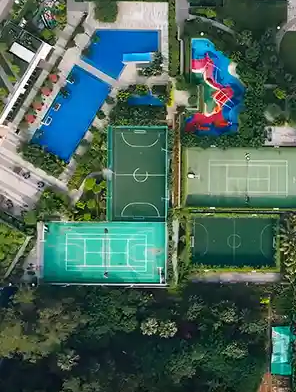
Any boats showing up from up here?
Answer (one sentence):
No, no boat is visible in the view.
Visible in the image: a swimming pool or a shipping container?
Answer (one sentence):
Visible in the photo is a swimming pool.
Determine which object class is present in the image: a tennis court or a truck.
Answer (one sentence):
Visible in the photo is a tennis court.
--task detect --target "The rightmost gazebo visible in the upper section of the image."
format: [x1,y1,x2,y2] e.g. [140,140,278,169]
[75,33,91,48]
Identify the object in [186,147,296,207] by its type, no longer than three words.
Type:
tennis court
